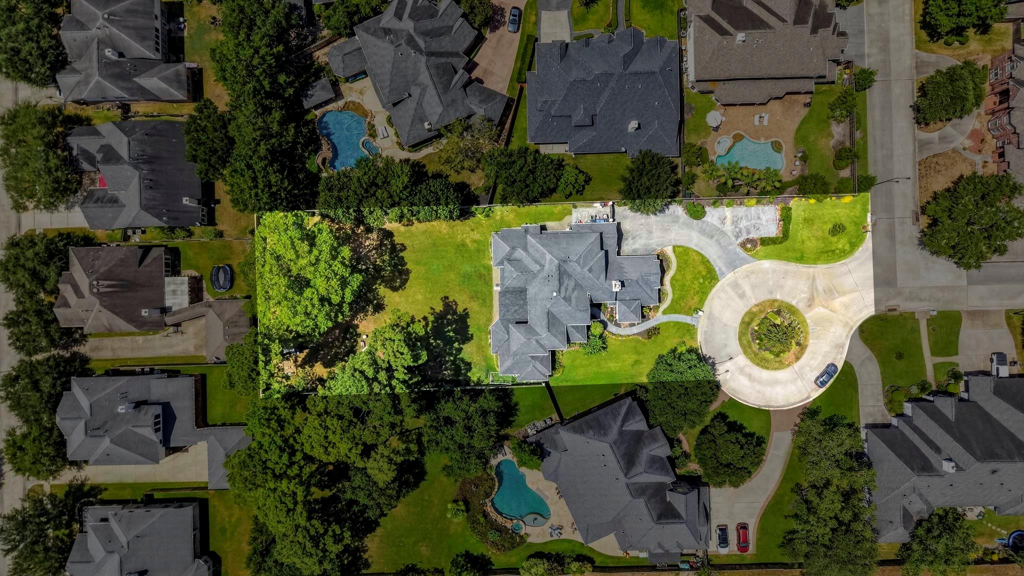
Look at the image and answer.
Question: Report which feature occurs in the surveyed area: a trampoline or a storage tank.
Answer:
trampoline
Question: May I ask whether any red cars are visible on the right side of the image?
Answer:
Yes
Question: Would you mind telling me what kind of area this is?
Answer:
residential area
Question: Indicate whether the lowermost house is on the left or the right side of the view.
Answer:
left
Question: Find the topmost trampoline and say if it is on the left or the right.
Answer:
left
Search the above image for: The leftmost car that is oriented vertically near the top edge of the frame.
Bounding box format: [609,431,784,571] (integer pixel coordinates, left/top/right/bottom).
[507,2,521,33]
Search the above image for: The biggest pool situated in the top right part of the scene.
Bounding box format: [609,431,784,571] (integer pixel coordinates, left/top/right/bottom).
[713,130,787,174]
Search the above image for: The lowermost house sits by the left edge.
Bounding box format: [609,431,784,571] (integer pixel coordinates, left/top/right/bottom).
[48,498,213,576]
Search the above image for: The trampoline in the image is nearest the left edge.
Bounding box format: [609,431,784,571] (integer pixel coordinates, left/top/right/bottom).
[204,264,230,292]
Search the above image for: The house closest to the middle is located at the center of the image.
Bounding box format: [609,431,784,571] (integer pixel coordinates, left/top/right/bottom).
[491,222,664,382]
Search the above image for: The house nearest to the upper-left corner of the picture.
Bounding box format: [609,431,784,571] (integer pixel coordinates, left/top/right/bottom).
[42,0,198,106]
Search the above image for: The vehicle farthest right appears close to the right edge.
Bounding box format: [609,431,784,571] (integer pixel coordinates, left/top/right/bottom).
[994,349,1012,375]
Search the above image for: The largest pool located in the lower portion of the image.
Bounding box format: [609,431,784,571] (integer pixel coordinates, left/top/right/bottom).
[490,458,552,521]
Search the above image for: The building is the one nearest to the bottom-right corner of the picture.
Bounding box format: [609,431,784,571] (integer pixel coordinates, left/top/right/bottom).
[861,375,1024,543]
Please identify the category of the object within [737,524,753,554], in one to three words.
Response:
car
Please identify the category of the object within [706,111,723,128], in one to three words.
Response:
umbrella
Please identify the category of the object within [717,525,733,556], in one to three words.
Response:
car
